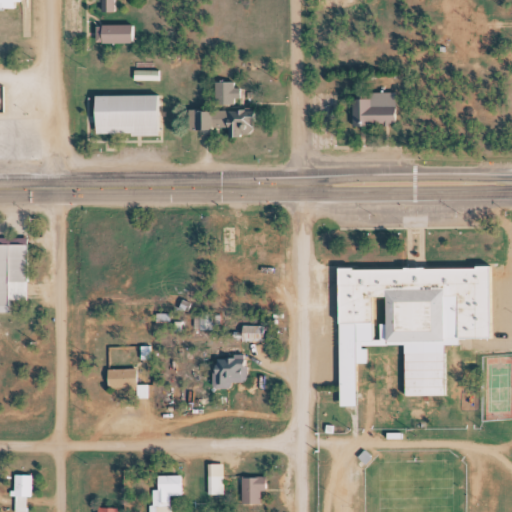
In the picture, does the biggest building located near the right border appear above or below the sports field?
above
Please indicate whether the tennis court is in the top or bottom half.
bottom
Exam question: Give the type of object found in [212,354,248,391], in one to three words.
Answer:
house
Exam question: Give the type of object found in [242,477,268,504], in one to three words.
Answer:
house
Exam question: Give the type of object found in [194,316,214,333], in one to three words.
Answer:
shed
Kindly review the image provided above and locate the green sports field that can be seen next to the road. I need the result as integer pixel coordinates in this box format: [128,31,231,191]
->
[366,451,466,512]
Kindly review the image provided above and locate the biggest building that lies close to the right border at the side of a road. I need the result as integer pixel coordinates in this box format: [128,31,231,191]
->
[337,266,492,406]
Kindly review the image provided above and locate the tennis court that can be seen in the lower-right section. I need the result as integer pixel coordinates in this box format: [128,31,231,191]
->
[487,356,512,420]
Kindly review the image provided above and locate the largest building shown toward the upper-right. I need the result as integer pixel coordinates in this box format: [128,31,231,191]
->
[352,90,398,126]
